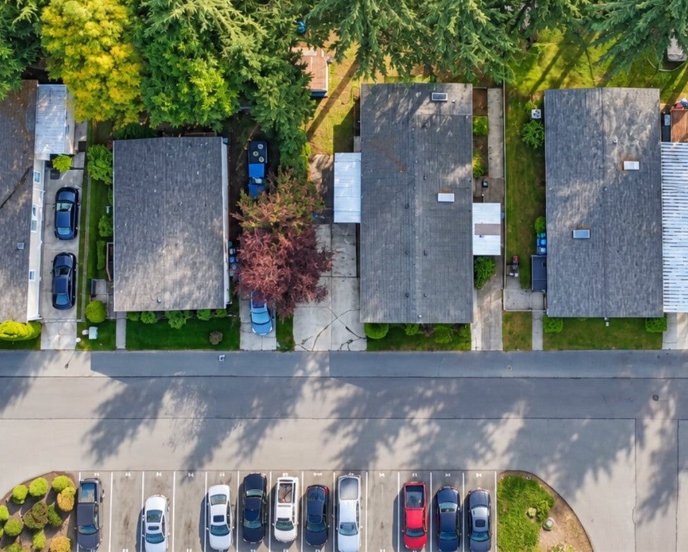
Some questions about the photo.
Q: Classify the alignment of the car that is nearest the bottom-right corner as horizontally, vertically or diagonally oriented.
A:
vertically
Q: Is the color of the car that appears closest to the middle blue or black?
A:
blue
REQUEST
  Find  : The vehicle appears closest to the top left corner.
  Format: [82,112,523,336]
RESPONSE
[52,187,83,240]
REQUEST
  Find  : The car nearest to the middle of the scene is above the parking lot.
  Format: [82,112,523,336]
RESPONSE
[248,292,274,340]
